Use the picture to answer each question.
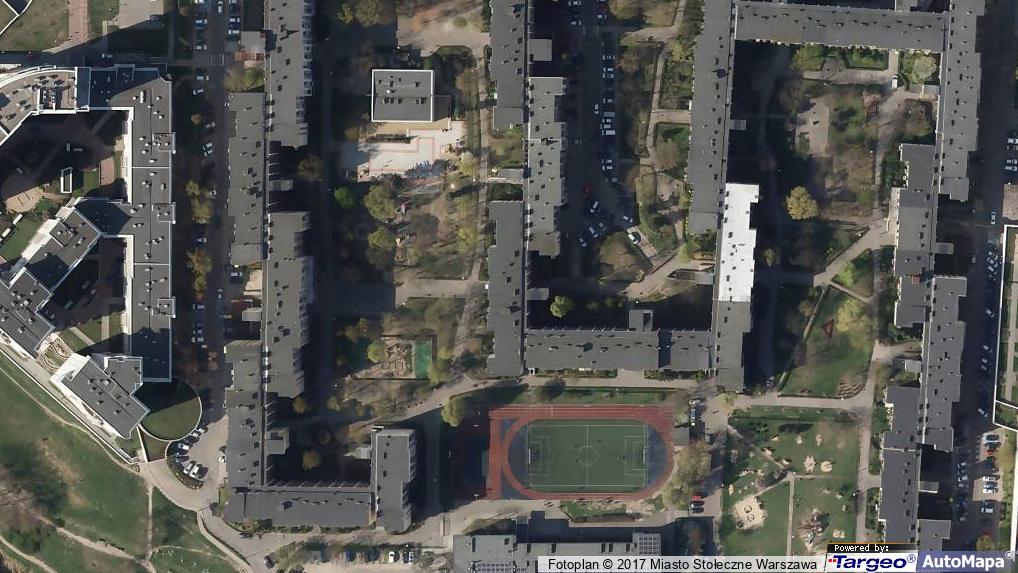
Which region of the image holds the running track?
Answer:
bottom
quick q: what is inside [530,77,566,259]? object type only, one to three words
building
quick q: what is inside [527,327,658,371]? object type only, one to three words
building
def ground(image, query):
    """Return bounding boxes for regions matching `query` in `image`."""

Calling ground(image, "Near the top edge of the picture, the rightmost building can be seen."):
[941,0,988,202]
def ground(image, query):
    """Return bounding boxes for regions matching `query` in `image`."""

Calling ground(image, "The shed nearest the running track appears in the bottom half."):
[673,427,689,447]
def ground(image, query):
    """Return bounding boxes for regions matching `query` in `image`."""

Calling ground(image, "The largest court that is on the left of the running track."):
[455,413,489,500]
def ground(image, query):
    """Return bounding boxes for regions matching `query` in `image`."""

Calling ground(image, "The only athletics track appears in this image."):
[489,405,673,500]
